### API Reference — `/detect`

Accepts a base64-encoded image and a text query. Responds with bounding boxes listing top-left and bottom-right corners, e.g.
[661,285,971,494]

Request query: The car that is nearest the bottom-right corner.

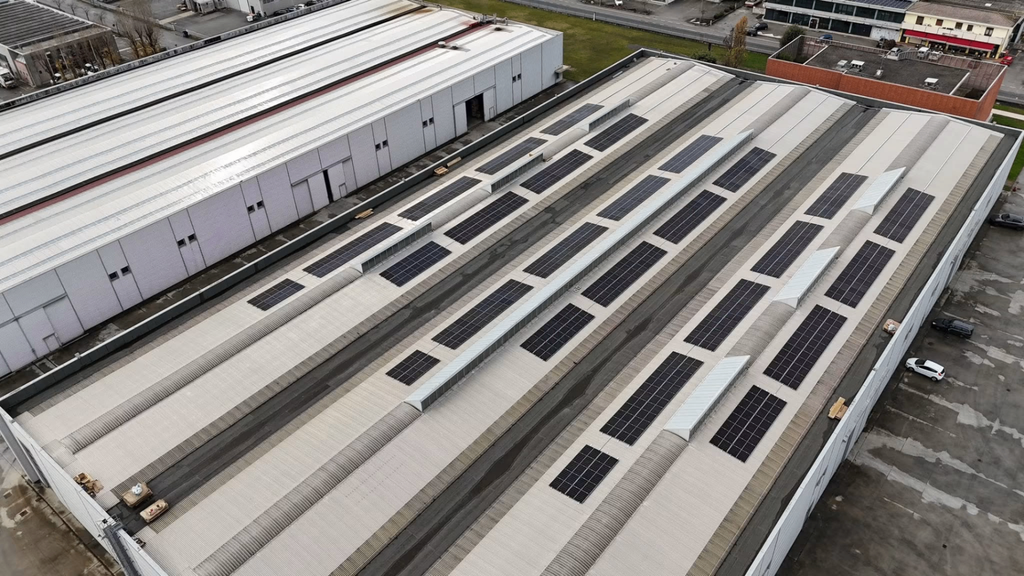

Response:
[905,357,947,381]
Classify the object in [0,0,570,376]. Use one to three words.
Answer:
warehouse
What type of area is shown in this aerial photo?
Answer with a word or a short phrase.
industrial area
